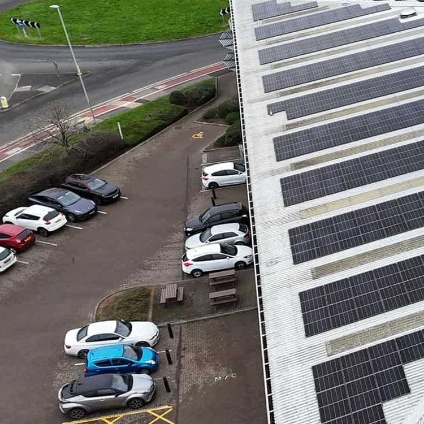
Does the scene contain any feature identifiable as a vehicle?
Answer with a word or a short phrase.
Yes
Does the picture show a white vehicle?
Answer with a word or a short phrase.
Yes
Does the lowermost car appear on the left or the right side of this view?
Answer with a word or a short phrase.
left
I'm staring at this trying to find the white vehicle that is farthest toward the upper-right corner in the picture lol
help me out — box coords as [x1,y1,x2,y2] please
[199,162,244,189]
